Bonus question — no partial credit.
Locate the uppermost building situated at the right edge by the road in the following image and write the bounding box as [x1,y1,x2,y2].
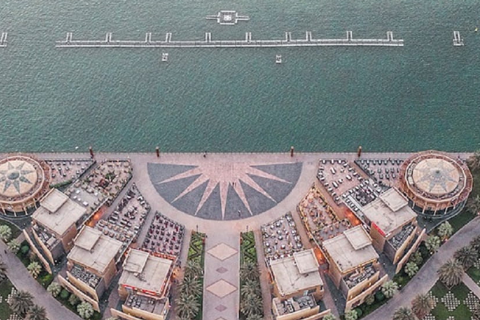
[397,151,472,222]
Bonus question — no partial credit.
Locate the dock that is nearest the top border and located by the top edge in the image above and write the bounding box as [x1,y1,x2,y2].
[205,8,251,27]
